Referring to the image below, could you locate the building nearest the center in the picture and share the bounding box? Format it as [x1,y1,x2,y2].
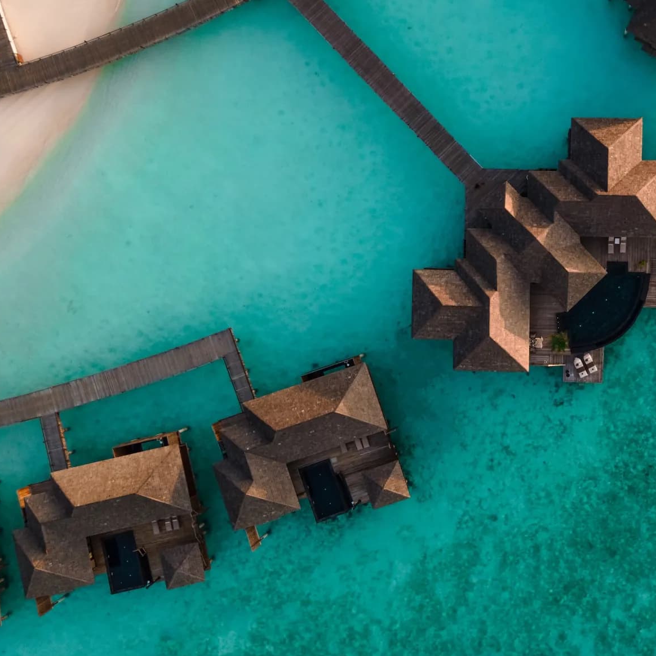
[210,351,411,551]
